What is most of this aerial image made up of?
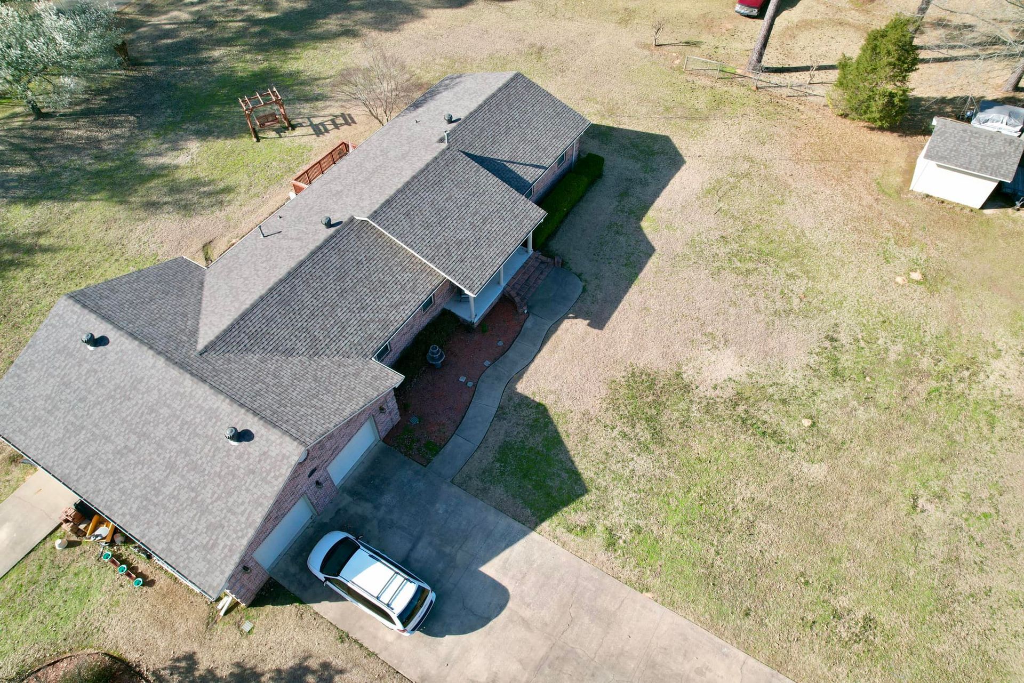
grass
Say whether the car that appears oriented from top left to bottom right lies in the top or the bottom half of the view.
bottom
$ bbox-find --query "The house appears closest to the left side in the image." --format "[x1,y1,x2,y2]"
[0,71,591,608]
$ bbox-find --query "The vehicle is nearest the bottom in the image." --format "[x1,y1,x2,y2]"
[304,529,437,639]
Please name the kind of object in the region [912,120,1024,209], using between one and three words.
shed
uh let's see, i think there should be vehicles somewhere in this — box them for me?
[730,0,759,16]
[304,529,437,639]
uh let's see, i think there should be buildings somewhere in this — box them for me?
[0,71,591,608]
[912,120,1024,209]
